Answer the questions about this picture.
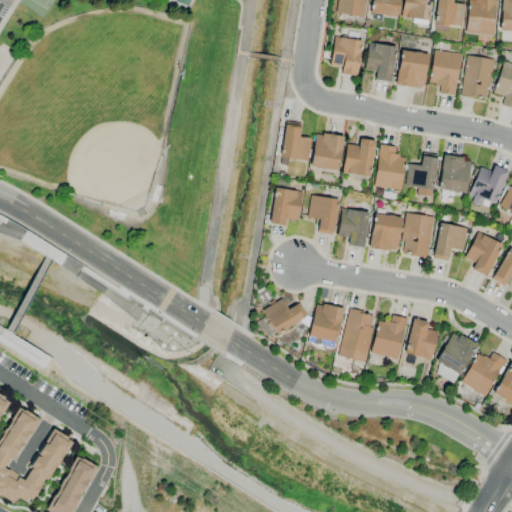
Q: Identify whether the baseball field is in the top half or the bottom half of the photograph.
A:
top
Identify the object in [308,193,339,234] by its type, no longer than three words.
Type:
house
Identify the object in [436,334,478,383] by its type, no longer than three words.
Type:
house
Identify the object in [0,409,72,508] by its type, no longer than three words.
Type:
building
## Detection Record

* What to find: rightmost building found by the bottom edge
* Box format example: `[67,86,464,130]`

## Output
[40,456,98,512]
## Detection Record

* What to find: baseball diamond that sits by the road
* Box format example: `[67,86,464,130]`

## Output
[0,7,190,222]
